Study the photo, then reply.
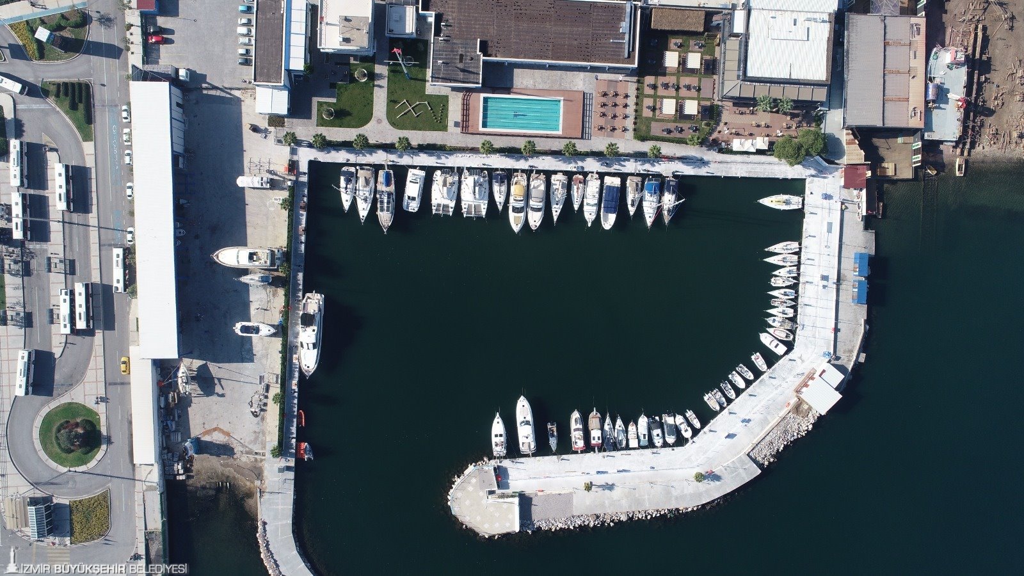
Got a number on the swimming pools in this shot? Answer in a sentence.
There is 1 swimming pool in the image.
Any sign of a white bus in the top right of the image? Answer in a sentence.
No, looking in the top right of the image, there is no white bus.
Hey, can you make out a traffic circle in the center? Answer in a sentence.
No, I can find no traffic circle in the center.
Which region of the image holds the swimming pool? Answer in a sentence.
The swimming pool is located in the top region of the scene.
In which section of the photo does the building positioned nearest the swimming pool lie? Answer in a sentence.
Look in the top portion of the view to spot the building positioned nearest the swimming pool.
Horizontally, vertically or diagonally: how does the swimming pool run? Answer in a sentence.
The swimming pool has been laid out horizontally relative to the frame.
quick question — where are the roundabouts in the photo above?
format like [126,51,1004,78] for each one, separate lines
[40,402,101,468]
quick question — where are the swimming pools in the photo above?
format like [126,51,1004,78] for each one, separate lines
[460,89,584,139]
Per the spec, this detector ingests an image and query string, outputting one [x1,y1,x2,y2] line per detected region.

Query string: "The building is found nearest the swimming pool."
[420,0,641,90]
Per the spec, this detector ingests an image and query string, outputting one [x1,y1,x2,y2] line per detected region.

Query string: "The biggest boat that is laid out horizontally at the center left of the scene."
[210,245,282,270]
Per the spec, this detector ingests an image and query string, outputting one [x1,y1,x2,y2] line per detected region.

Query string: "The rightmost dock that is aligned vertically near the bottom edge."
[258,455,316,576]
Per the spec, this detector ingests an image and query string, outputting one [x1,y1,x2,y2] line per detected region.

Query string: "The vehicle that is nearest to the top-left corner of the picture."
[0,71,32,95]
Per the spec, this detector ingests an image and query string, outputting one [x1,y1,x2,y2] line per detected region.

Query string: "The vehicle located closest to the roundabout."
[15,349,36,395]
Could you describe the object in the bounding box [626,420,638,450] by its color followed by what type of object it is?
white boat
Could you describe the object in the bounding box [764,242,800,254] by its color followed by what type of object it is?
white boat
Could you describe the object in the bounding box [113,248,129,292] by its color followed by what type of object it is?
white vehicle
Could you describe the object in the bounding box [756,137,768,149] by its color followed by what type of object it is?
white umbrella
